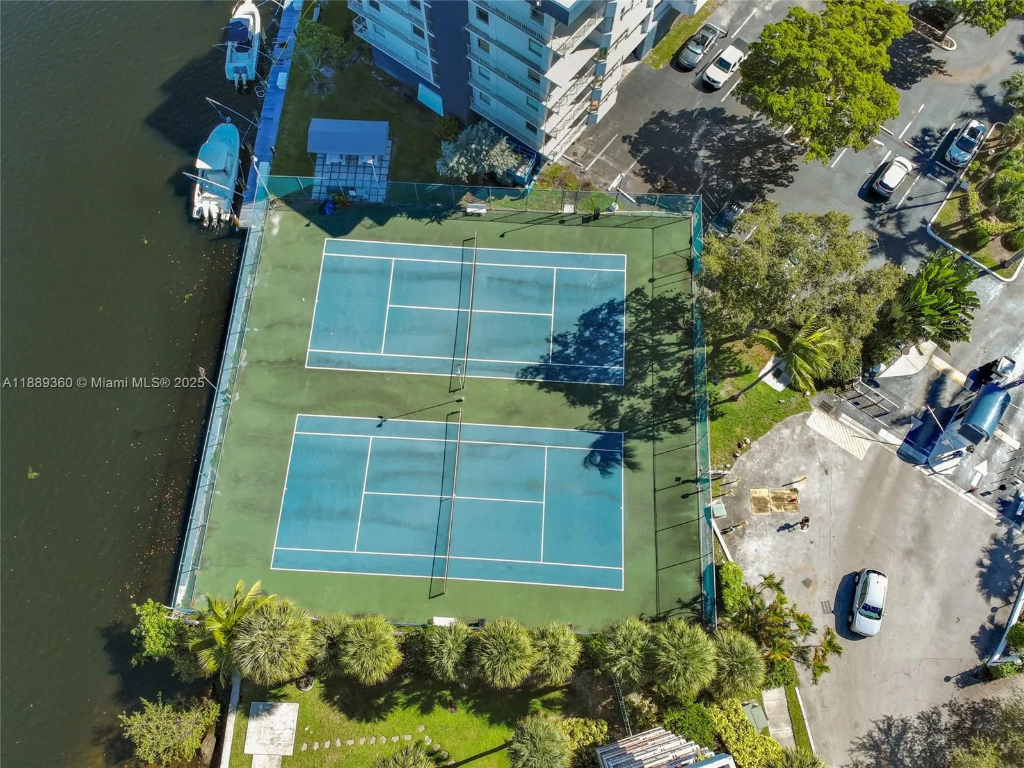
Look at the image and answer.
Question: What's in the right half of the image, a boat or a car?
car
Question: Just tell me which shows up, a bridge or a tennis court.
tennis court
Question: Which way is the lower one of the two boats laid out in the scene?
vertically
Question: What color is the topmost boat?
blue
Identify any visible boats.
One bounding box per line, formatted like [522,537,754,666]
[222,0,261,78]
[193,120,243,223]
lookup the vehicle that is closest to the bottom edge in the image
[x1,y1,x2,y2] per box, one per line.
[846,566,887,640]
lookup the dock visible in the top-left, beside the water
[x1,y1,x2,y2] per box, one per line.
[240,0,302,206]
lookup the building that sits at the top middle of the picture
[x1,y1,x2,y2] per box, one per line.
[335,0,705,166]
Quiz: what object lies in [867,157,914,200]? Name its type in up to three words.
car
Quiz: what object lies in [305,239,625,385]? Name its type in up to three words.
tennis court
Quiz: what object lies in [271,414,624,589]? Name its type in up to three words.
tennis court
